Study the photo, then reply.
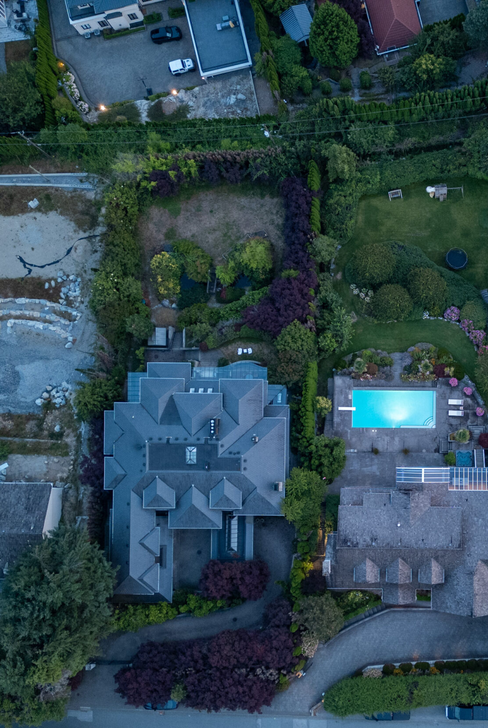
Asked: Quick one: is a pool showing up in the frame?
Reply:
Yes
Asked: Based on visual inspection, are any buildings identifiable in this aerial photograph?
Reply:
Yes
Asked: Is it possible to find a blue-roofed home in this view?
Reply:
Yes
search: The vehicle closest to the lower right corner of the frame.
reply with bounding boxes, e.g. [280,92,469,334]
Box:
[445,702,488,724]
